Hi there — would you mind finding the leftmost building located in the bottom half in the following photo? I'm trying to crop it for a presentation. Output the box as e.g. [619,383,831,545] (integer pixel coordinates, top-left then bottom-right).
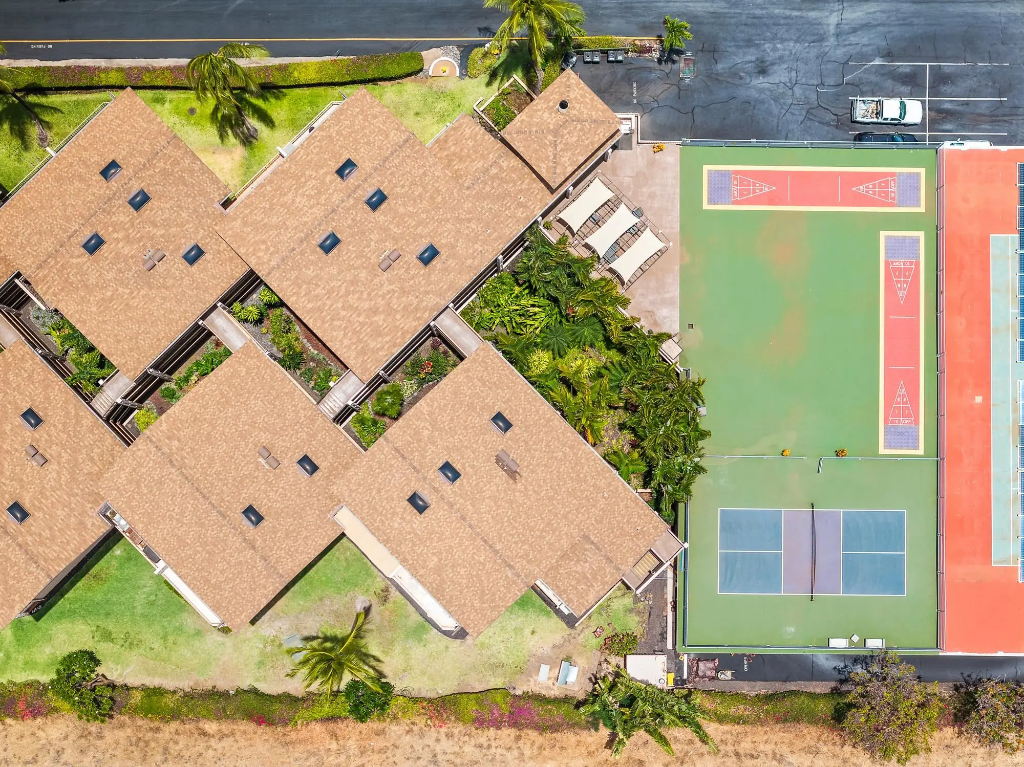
[0,339,144,631]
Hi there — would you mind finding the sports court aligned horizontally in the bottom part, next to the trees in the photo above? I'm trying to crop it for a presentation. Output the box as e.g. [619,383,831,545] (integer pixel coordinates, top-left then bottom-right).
[718,508,906,596]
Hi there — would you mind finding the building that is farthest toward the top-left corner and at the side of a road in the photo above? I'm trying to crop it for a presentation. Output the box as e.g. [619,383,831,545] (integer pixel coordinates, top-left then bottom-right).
[0,88,270,392]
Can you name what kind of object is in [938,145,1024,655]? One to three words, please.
tennis court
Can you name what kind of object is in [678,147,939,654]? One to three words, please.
sports court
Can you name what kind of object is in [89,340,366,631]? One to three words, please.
building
